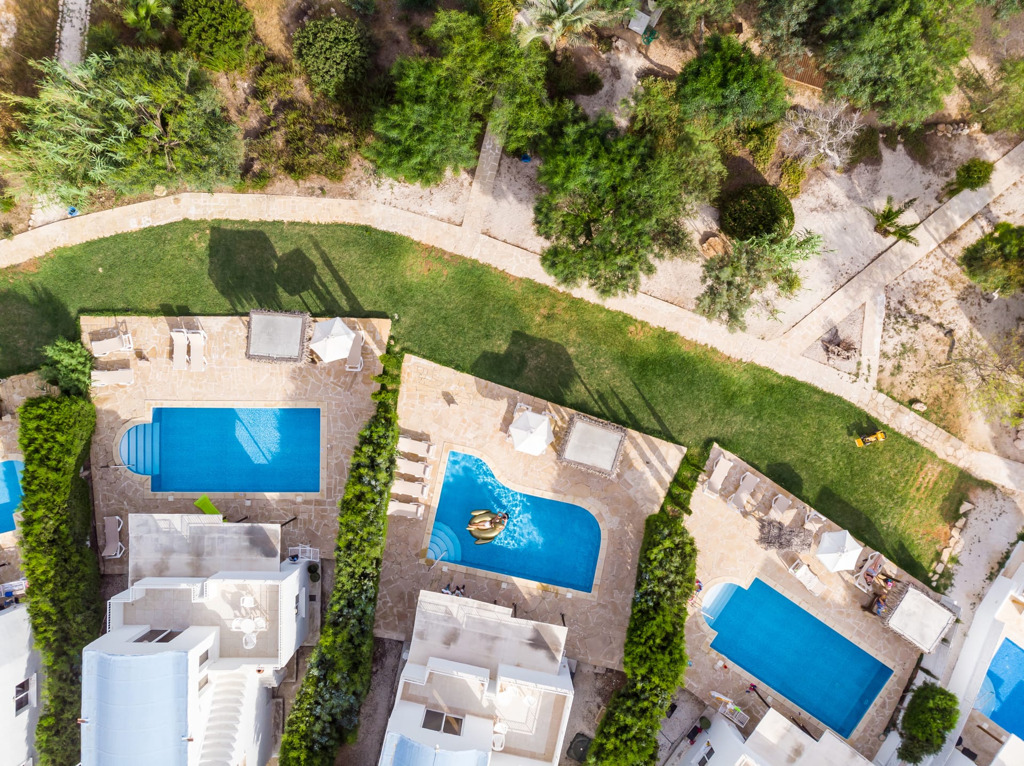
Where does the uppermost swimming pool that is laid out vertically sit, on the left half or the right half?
left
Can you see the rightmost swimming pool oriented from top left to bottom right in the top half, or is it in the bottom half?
bottom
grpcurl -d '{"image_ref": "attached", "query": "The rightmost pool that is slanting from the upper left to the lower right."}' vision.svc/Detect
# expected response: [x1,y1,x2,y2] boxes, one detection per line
[695,568,903,749]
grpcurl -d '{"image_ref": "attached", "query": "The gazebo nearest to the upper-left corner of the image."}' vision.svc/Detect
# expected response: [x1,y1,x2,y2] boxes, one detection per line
[243,307,318,368]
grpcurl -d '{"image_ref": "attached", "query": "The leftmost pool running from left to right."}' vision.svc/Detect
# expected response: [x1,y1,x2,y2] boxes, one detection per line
[105,401,332,501]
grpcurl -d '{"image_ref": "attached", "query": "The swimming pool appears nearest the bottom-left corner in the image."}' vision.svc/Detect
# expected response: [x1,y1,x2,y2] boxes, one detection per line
[0,453,31,539]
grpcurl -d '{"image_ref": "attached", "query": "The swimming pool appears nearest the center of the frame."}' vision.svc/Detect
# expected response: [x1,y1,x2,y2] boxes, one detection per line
[420,443,609,601]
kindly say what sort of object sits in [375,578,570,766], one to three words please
house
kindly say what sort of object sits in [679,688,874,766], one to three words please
house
